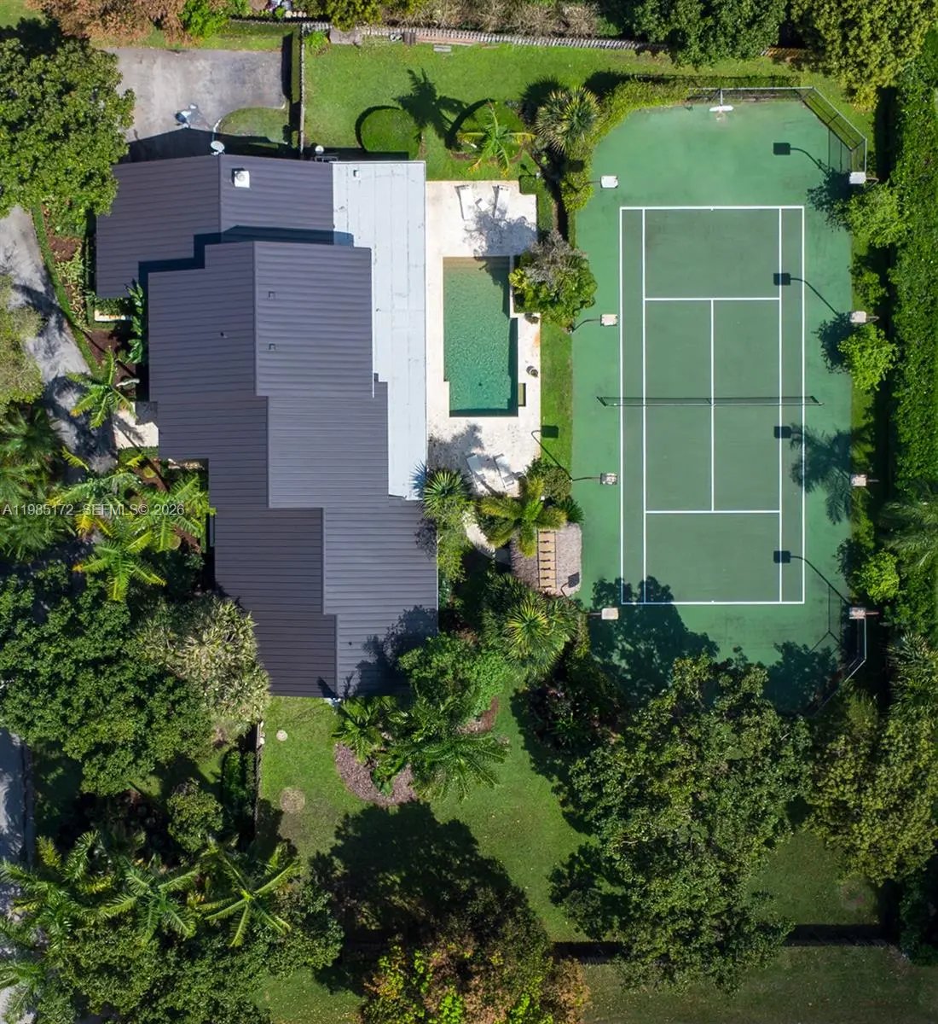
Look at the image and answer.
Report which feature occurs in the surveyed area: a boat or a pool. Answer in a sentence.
Of the two, only a pool appears.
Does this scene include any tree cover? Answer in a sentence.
Yes, the picture does contain tree cover.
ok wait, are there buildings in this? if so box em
[507,521,588,601]
[96,156,439,698]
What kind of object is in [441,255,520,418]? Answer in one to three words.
swimming pool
